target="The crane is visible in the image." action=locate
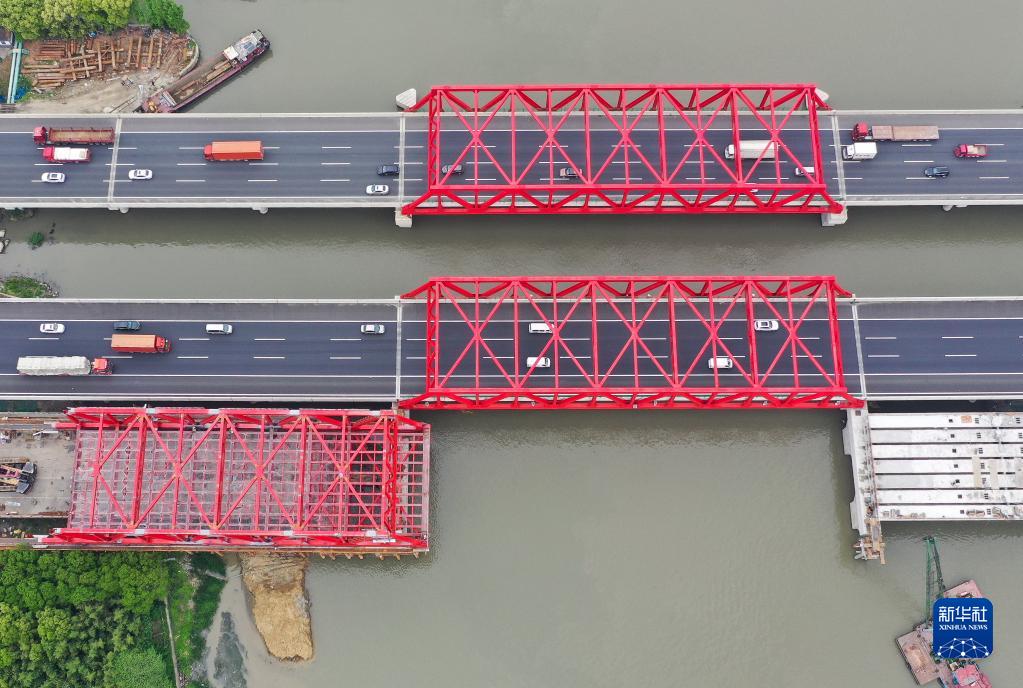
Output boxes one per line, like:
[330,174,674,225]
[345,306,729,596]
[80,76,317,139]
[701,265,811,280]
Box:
[0,460,37,496]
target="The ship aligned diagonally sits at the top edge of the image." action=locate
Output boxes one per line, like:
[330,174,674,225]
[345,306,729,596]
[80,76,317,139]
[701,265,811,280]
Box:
[132,28,272,114]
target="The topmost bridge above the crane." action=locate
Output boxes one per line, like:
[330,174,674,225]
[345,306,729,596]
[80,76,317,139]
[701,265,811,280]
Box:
[0,84,1023,226]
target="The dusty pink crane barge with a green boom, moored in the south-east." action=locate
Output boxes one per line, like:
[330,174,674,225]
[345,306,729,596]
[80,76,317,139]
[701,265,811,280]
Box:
[893,532,997,688]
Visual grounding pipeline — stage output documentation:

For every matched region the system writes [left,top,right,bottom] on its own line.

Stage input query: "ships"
[893,532,997,688]
[132,28,272,114]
